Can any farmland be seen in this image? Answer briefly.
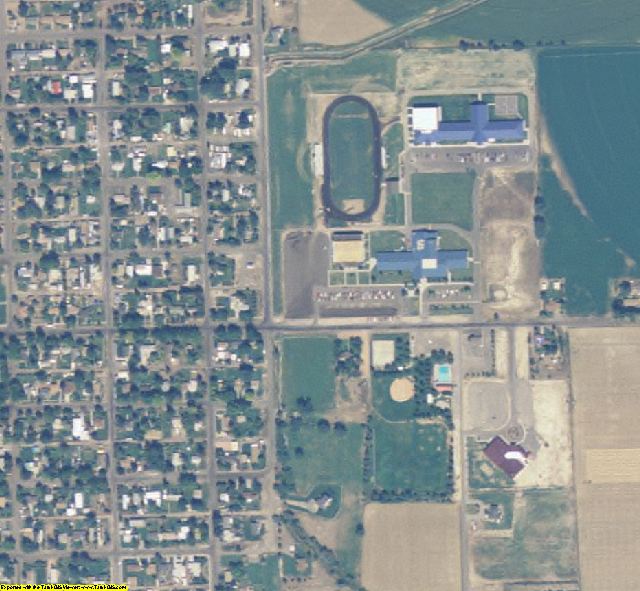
Yes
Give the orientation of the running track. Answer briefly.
vertically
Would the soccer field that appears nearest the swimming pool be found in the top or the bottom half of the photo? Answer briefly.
bottom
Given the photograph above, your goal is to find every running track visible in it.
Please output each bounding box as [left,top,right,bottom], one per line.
[322,96,381,222]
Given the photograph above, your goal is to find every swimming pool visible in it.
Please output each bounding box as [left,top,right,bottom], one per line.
[434,365,451,384]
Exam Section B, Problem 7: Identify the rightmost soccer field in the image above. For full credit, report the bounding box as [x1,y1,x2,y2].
[376,423,448,490]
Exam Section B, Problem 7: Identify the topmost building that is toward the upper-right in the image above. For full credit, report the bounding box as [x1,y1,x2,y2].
[412,101,528,147]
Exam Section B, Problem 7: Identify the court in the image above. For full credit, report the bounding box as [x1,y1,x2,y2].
[495,95,519,116]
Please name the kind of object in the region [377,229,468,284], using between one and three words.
building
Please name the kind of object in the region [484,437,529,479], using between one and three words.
building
